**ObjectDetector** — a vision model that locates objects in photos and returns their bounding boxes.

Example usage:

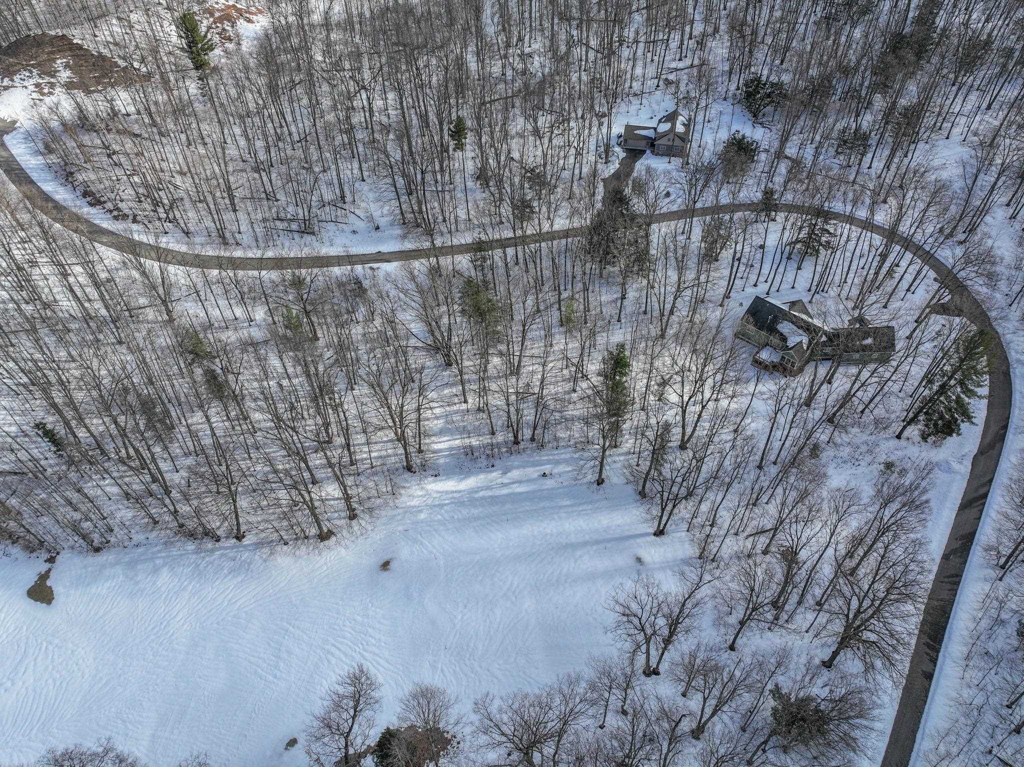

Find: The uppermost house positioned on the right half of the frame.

[624,110,688,155]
